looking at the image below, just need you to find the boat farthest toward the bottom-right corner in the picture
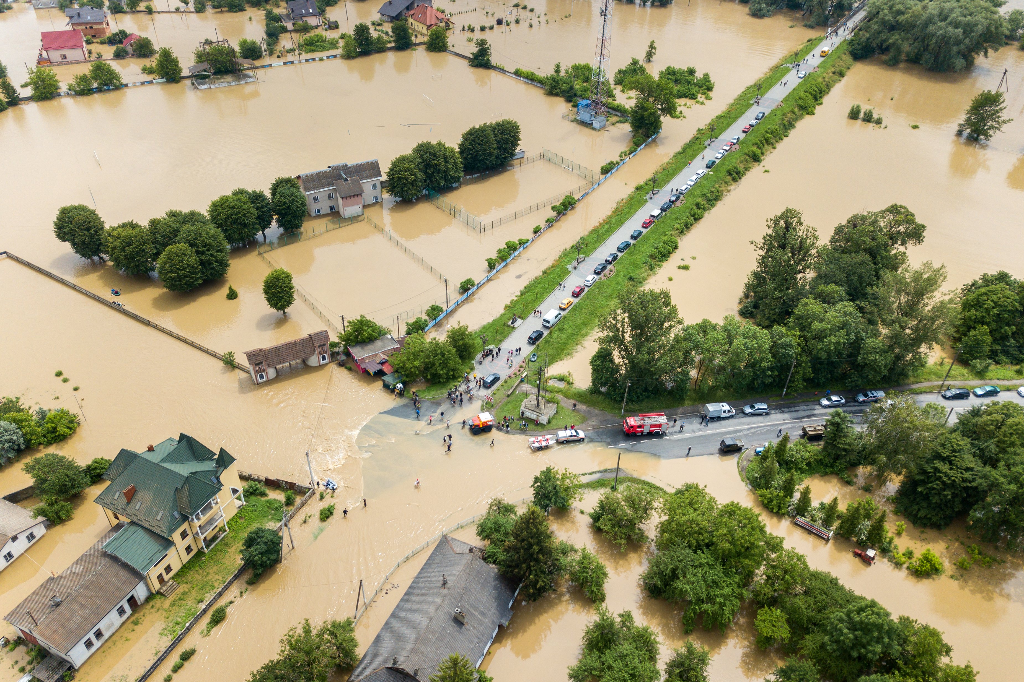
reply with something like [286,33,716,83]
[525,434,559,449]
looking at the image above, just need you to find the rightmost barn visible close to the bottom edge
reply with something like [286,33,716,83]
[346,535,526,682]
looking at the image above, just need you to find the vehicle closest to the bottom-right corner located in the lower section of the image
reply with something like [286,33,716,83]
[842,548,876,571]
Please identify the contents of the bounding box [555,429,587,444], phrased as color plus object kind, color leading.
white vehicle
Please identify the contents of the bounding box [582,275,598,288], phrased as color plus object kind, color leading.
white vehicle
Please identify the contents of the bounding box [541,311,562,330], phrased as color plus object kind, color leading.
white car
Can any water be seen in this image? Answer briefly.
Yes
